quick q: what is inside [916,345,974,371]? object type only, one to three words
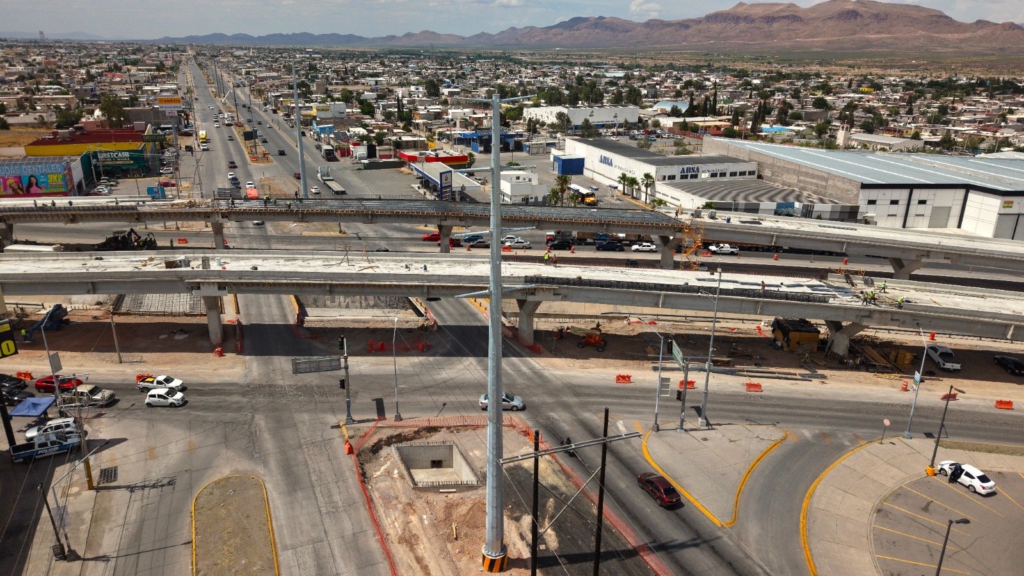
truck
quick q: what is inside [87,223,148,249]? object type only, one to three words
work vehicle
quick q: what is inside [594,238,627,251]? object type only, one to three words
vehicle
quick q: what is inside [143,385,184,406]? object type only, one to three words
car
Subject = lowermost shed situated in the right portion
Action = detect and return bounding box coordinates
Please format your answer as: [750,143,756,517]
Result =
[771,316,819,352]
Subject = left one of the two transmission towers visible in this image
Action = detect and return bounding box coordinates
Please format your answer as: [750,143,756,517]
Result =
[292,61,309,193]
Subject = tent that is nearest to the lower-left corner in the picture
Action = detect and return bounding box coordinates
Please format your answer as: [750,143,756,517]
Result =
[9,396,54,422]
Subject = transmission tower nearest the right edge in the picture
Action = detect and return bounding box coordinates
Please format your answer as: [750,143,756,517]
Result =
[448,94,539,571]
